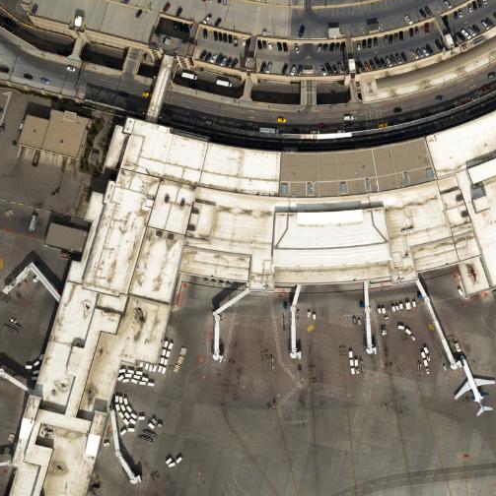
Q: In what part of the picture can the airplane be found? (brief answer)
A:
bottom right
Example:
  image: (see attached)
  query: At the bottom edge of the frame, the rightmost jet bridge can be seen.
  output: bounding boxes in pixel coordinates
[109,411,143,486]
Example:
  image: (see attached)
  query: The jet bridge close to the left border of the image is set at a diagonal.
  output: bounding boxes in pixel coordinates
[0,370,30,393]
